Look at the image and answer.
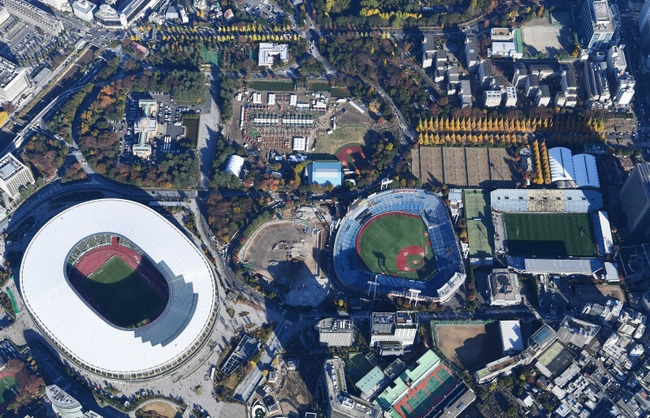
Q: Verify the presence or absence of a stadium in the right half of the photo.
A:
Yes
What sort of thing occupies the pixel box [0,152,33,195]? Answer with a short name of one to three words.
building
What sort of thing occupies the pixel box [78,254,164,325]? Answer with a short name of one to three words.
sports field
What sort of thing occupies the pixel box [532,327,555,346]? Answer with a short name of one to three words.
swimming pool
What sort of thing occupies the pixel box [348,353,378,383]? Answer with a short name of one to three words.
sports court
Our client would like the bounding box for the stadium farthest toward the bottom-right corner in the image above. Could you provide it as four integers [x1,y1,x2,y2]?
[490,189,613,279]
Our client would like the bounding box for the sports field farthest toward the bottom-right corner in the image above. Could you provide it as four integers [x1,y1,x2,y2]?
[501,212,597,258]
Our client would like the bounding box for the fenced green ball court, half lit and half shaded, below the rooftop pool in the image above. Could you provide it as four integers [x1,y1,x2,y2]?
[538,338,579,377]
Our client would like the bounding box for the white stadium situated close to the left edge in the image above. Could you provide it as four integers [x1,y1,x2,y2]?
[19,197,221,386]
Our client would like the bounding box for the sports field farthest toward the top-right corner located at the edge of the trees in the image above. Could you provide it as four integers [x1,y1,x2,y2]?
[490,20,576,60]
